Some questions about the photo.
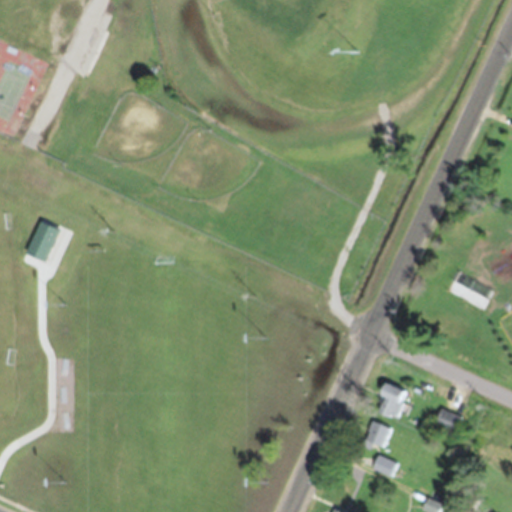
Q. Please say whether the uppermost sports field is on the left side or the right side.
right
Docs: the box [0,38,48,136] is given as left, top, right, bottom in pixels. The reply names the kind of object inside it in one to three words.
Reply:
sports court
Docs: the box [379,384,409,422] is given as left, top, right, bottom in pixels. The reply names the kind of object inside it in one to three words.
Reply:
house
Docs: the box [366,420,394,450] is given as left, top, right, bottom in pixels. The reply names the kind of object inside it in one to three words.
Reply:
house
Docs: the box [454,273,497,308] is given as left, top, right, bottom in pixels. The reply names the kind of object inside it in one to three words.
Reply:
shed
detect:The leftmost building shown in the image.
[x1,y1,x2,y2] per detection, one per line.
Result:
[30,222,60,262]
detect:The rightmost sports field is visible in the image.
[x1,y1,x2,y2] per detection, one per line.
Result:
[230,0,464,102]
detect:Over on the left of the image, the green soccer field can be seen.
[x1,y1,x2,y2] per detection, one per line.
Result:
[88,264,248,512]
